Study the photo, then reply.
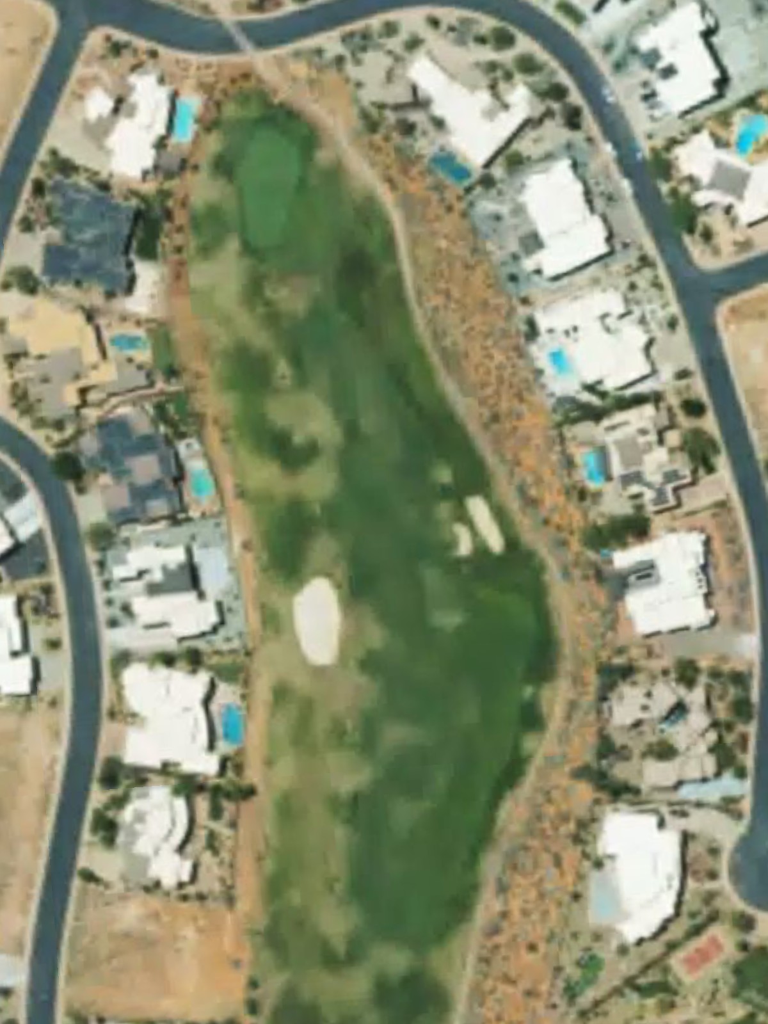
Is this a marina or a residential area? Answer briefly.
residential area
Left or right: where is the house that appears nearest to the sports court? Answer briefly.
right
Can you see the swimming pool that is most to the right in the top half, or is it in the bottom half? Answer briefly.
top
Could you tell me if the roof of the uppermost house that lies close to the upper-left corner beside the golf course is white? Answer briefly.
Yes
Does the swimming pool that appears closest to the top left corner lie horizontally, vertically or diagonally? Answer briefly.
vertically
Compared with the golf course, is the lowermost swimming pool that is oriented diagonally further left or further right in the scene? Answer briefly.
on its right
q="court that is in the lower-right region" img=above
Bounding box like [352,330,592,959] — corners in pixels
[672,927,731,979]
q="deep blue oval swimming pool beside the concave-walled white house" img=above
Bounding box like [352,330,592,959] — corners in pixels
[221,702,245,747]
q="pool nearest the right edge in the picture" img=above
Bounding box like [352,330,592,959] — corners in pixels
[736,112,768,158]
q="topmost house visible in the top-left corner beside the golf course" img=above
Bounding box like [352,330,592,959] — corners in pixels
[104,74,170,179]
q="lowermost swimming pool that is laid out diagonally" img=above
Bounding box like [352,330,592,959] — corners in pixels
[665,701,688,727]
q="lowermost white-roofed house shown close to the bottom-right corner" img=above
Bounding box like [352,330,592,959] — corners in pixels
[598,813,684,945]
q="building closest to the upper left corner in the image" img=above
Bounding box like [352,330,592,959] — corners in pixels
[84,87,114,123]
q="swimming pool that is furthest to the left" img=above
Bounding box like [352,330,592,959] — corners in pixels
[111,332,147,352]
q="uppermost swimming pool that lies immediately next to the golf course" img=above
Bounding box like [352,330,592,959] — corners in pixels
[173,96,197,141]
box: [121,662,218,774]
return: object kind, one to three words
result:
house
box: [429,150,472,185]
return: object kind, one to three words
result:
swimming pool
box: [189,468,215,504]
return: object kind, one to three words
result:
swimming pool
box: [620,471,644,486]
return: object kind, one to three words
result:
solar panel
